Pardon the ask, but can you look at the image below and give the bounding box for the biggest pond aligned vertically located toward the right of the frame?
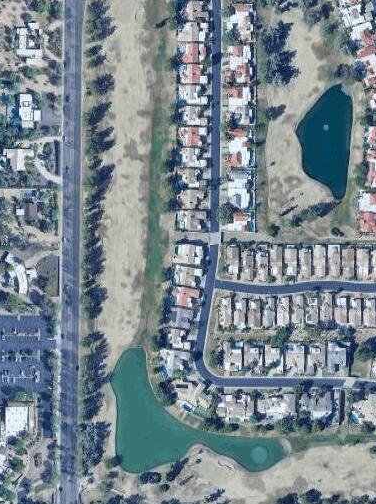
[296,82,355,200]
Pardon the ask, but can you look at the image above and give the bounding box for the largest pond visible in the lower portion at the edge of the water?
[111,344,288,474]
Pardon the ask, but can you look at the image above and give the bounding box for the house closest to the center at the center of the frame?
[174,243,203,266]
